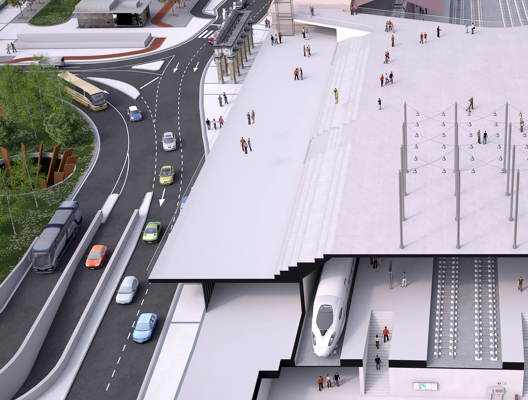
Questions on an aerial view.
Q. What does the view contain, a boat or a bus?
bus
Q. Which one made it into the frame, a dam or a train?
train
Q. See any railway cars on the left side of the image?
No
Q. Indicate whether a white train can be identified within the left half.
No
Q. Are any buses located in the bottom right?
No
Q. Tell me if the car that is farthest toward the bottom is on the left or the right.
left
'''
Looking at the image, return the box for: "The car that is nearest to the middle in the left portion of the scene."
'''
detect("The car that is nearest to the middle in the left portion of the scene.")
[176,192,190,216]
